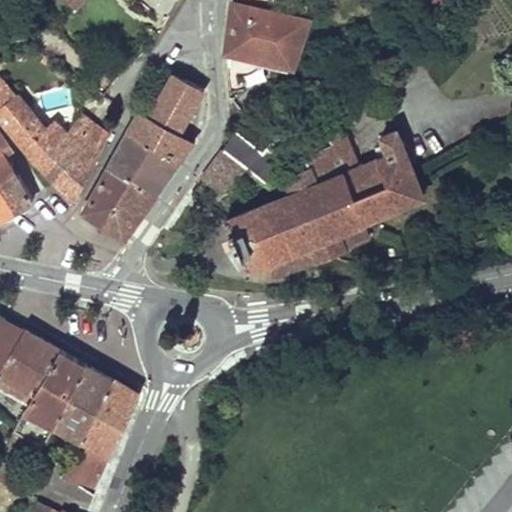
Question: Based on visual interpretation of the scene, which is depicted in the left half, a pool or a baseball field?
pool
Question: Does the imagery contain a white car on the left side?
Yes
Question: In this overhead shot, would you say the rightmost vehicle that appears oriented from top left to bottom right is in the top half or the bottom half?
top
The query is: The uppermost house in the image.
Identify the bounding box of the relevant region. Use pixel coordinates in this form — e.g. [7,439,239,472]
[222,2,312,74]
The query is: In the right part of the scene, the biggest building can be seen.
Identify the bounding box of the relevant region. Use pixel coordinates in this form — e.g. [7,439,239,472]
[229,173,427,278]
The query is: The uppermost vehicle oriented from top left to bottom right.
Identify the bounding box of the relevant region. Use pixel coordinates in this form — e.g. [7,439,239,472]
[424,129,446,156]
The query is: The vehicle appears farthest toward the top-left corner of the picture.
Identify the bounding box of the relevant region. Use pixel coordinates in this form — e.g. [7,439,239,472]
[165,42,183,64]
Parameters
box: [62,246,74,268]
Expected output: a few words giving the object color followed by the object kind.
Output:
white vehicle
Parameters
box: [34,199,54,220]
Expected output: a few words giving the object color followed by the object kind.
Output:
white car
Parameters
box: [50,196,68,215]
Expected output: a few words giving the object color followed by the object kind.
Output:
white car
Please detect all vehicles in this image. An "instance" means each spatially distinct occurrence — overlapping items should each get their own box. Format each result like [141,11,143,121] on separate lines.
[172,362,194,373]
[424,129,446,156]
[13,216,35,234]
[165,42,183,64]
[50,196,68,215]
[376,290,396,302]
[82,317,92,335]
[34,199,54,220]
[62,246,74,268]
[69,314,78,334]
[96,320,106,342]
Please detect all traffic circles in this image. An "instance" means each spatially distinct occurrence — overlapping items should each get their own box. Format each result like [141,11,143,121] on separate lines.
[112,250,252,422]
